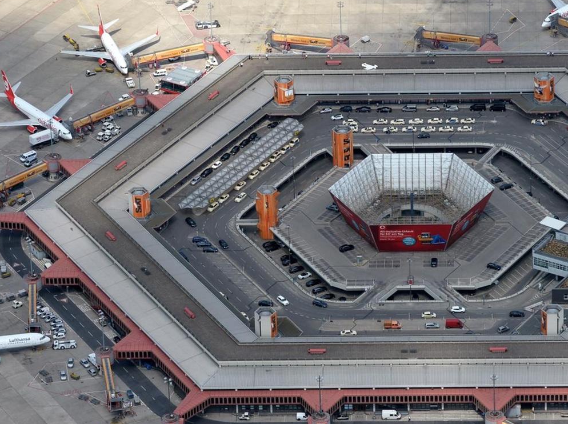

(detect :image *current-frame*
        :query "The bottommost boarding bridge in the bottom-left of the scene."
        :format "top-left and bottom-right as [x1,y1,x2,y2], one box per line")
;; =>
[101,358,123,412]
